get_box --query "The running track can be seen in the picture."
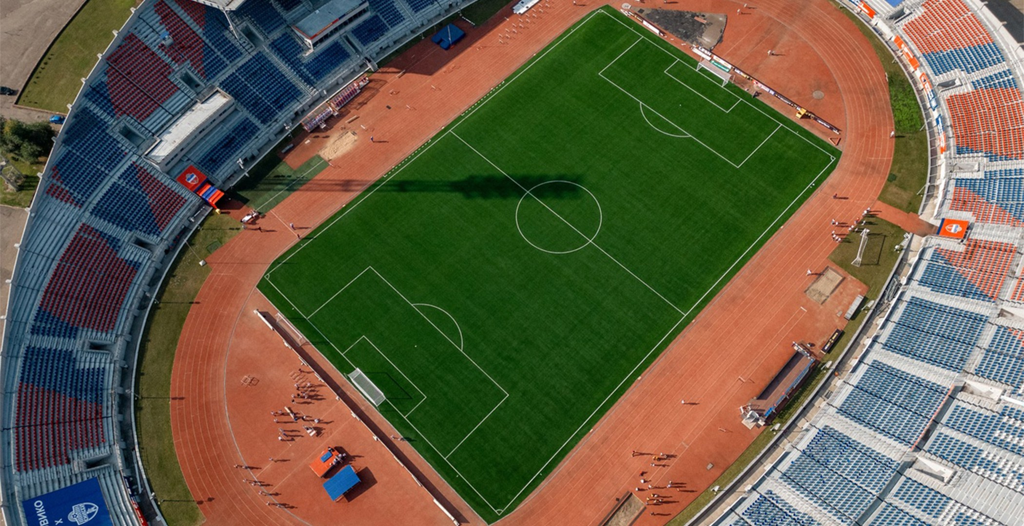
[170,0,893,526]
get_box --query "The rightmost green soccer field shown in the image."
[256,4,840,523]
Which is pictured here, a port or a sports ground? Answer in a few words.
sports ground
